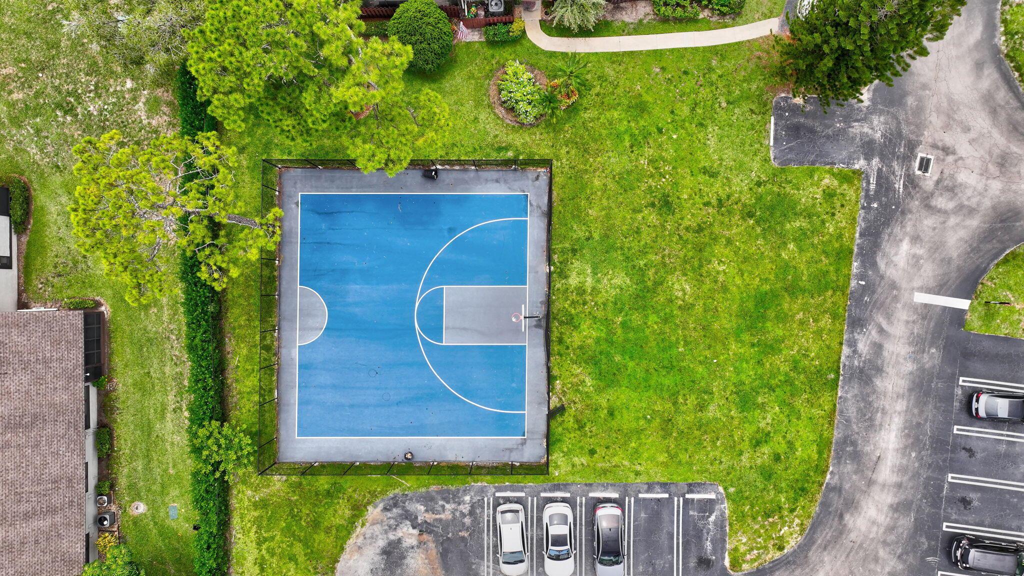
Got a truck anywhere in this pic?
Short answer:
No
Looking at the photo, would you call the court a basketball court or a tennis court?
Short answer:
basketball court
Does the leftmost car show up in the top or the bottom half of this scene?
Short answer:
bottom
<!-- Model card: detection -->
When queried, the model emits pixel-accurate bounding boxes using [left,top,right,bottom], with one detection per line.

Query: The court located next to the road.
[276,168,549,463]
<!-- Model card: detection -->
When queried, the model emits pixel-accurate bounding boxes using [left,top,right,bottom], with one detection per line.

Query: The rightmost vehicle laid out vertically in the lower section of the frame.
[592,502,629,576]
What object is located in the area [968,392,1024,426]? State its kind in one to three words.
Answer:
car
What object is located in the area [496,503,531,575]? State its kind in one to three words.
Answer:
car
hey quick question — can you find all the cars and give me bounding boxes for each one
[968,392,1024,426]
[541,502,578,576]
[496,503,531,575]
[948,537,1024,576]
[592,502,629,576]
